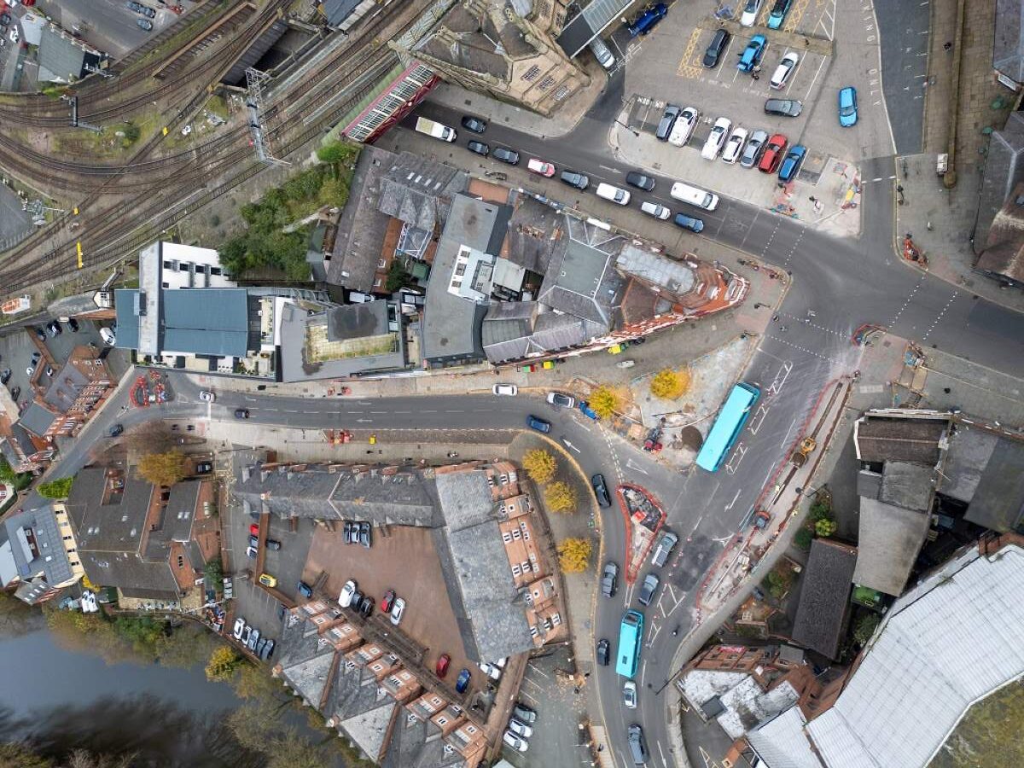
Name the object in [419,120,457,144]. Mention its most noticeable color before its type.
white truck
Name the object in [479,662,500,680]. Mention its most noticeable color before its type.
white car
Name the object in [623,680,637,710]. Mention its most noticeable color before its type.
white car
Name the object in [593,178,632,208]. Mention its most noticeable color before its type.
white van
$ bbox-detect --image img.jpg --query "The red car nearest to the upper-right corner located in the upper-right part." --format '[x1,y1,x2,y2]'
[757,136,786,172]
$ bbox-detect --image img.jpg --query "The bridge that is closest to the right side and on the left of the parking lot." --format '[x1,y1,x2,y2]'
[338,58,442,144]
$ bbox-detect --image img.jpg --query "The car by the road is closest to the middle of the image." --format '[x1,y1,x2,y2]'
[493,382,518,397]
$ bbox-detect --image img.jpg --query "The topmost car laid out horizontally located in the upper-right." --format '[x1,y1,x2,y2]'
[764,97,803,116]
